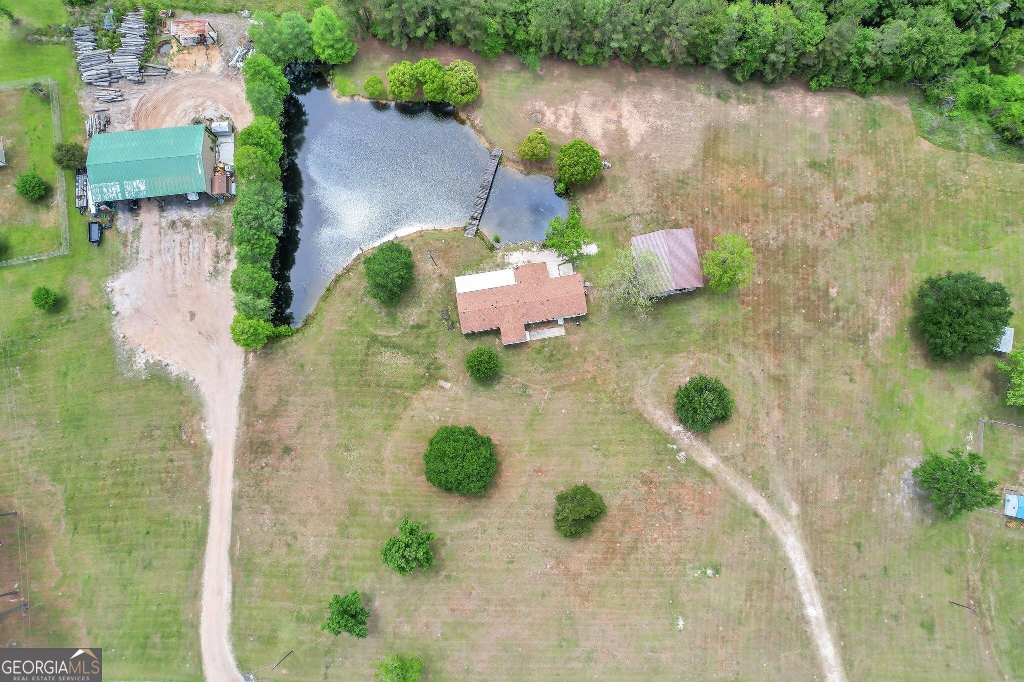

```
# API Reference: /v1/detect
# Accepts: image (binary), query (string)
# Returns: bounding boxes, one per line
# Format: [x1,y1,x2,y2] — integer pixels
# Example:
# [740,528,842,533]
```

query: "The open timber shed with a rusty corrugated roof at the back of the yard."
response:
[171,18,214,45]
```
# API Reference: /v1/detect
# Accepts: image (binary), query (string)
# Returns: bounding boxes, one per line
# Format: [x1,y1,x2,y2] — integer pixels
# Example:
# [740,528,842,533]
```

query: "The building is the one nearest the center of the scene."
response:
[455,262,587,345]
